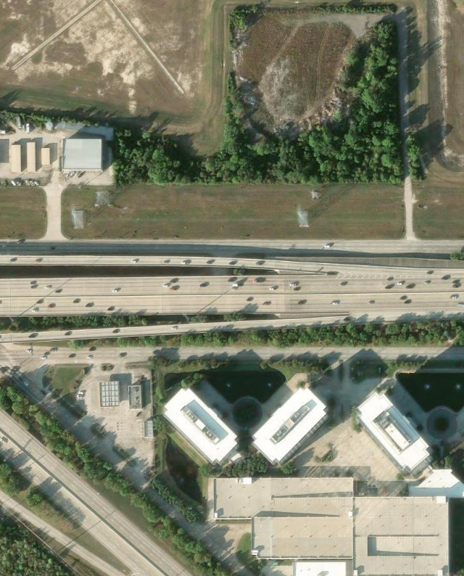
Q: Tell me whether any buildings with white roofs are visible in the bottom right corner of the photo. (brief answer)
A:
Yes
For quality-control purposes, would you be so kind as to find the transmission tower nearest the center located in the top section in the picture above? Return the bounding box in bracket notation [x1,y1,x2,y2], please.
[298,212,310,232]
